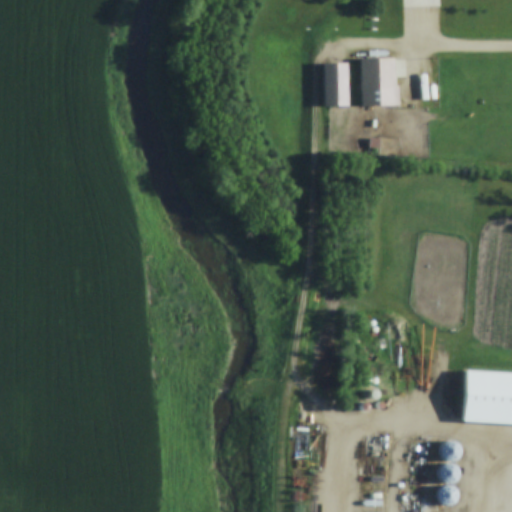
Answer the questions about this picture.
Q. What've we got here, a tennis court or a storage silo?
storage silo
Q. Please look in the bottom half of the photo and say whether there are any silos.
Yes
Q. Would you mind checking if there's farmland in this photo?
Yes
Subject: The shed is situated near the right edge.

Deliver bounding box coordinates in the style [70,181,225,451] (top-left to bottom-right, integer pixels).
[462,368,512,426]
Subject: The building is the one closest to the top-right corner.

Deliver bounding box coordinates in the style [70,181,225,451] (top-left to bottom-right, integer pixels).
[361,55,408,107]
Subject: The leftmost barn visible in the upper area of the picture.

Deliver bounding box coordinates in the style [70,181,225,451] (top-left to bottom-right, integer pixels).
[325,60,350,106]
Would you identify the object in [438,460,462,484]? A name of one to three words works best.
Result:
silo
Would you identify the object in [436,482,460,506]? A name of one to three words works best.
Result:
silo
